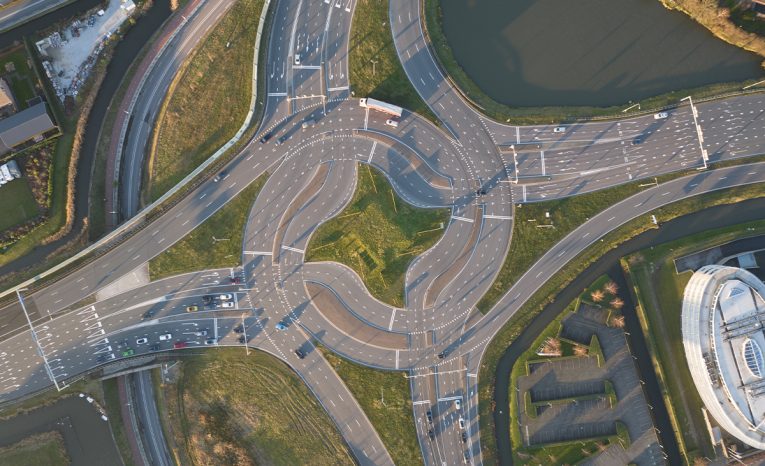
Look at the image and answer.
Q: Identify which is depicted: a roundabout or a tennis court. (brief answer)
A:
roundabout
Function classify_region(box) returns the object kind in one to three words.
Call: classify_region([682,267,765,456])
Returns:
building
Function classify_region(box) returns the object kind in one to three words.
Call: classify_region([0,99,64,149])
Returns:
barn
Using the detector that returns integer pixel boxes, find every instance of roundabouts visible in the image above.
[229,92,532,380]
